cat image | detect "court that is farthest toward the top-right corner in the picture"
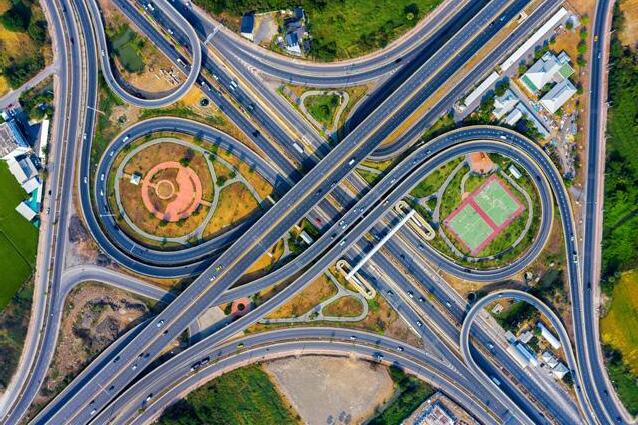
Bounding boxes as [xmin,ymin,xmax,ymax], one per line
[468,176,525,231]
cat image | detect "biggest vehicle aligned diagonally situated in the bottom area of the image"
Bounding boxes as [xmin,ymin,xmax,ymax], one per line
[190,355,210,372]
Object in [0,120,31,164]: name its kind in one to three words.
building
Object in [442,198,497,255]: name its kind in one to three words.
basketball court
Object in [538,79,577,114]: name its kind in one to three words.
building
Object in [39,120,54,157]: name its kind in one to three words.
shed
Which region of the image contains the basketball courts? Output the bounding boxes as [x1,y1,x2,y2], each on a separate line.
[468,176,525,231]
[442,198,497,255]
